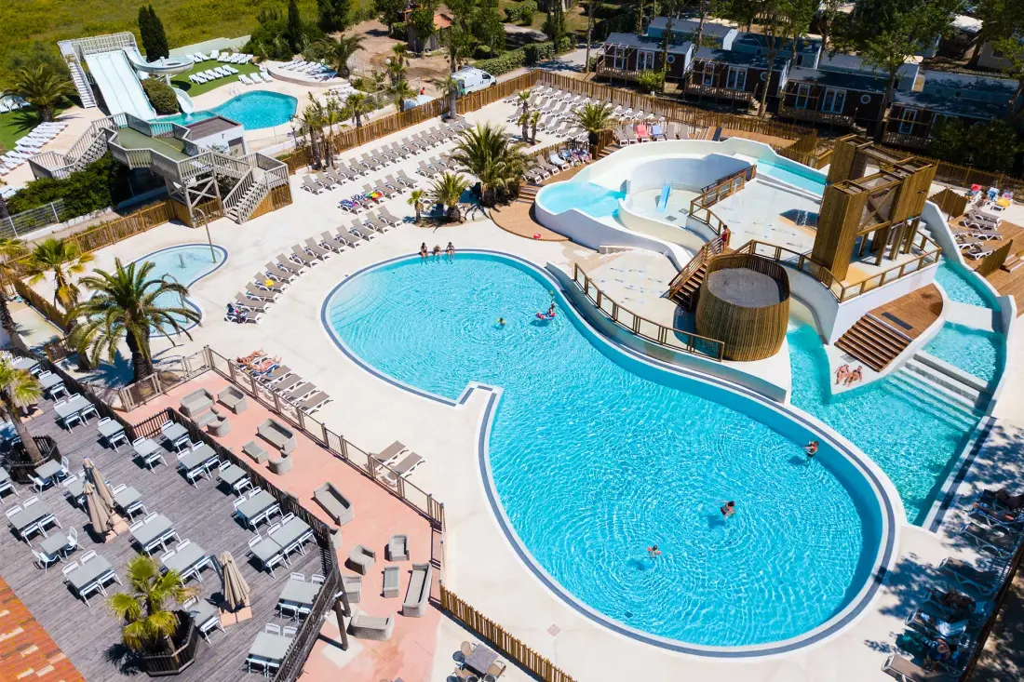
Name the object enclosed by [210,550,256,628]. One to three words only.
umbrella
